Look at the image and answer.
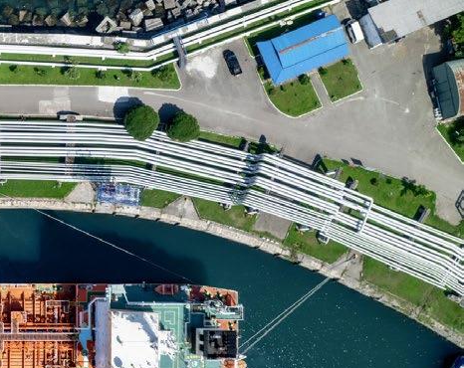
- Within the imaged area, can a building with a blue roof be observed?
Yes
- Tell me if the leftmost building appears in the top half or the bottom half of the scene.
top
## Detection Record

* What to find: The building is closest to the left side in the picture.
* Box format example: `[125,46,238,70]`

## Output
[251,13,350,86]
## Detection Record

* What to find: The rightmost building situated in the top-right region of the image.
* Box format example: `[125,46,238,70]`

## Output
[431,63,464,116]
